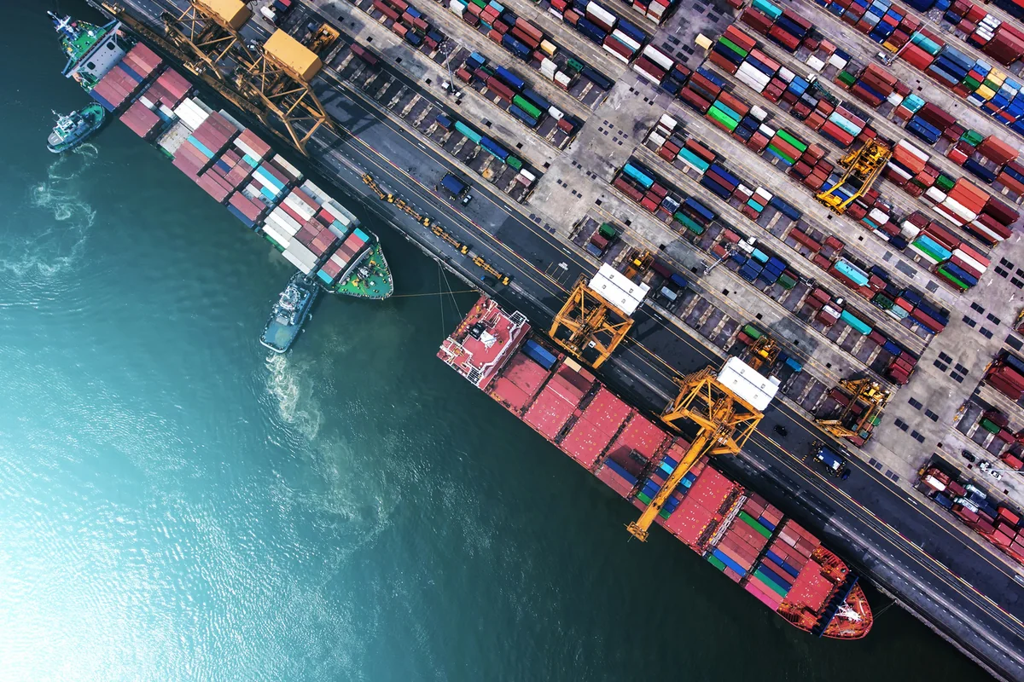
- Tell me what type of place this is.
port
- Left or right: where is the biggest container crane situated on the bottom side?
right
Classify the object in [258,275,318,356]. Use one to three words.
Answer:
boat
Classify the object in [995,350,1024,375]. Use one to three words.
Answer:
shipping container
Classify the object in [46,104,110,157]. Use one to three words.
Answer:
boat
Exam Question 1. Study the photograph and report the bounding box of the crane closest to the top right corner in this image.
[812,137,894,215]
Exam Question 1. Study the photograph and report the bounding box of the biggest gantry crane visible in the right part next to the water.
[625,338,781,542]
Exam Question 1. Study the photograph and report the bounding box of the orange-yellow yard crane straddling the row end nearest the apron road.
[814,373,903,440]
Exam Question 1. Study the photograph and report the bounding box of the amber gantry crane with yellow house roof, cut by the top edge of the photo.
[172,0,270,106]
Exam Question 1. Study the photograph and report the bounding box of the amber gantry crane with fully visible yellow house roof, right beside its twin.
[240,24,341,160]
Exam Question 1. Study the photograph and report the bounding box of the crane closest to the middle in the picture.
[544,248,654,373]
